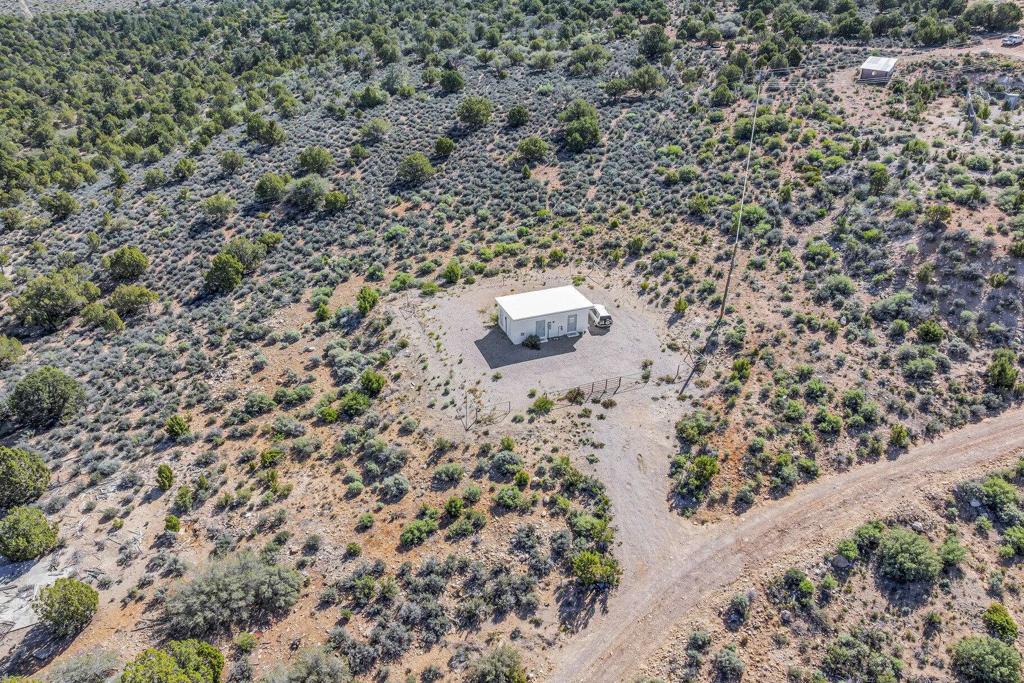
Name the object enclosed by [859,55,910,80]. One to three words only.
shed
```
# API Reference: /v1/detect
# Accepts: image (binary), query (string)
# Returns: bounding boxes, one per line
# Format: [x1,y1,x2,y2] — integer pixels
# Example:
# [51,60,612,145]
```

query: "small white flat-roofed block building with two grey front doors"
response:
[495,286,594,345]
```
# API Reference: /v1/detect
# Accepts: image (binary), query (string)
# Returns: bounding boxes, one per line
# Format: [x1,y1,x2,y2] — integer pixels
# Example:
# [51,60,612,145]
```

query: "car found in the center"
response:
[592,304,615,324]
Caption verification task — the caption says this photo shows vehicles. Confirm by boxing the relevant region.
[1003,37,1024,45]
[592,304,615,324]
